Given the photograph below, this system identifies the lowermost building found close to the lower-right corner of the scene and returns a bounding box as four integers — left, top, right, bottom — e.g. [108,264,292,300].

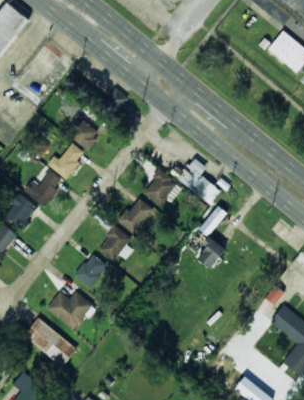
[235,377,272,400]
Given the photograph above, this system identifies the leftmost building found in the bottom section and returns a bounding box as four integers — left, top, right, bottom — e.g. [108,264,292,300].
[0,226,18,259]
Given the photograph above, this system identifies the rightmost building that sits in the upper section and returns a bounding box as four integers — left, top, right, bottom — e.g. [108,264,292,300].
[268,30,304,73]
